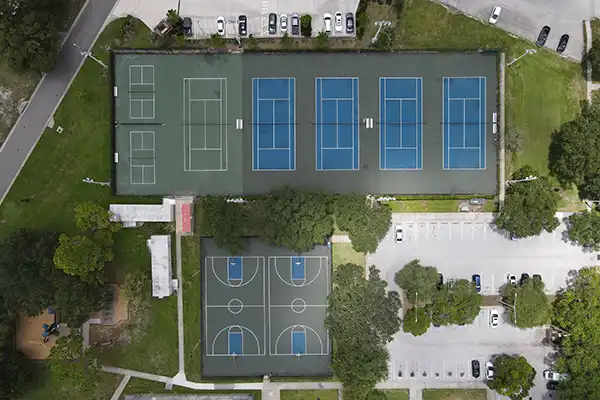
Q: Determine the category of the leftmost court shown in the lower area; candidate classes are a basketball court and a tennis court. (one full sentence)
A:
It turns out the leftmost court shown in the lower area is a basketball court.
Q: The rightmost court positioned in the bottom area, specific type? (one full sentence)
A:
The rightmost court positioned in the bottom area is a basketball court.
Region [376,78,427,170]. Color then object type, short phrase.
blue tennis court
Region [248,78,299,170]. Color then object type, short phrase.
blue tennis court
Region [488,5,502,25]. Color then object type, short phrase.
white vehicle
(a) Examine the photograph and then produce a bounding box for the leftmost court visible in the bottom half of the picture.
[206,257,265,355]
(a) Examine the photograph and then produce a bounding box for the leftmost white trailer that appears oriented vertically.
[148,235,181,297]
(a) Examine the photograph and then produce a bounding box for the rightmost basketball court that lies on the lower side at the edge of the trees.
[268,257,328,355]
